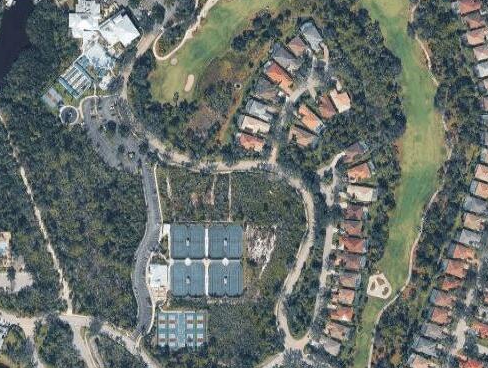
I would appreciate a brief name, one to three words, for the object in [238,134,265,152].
house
